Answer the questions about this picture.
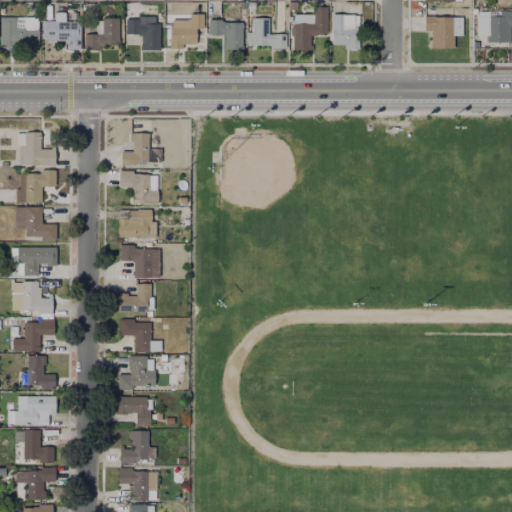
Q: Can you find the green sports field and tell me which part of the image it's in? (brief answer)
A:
bottom right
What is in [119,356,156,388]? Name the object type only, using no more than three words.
house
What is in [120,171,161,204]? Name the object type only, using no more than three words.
house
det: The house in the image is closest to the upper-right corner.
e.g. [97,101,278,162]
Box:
[478,13,512,43]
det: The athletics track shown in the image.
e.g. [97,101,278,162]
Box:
[223,308,512,468]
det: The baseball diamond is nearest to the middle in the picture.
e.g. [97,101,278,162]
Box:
[212,128,296,208]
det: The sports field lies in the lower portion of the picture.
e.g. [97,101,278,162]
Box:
[238,322,512,454]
